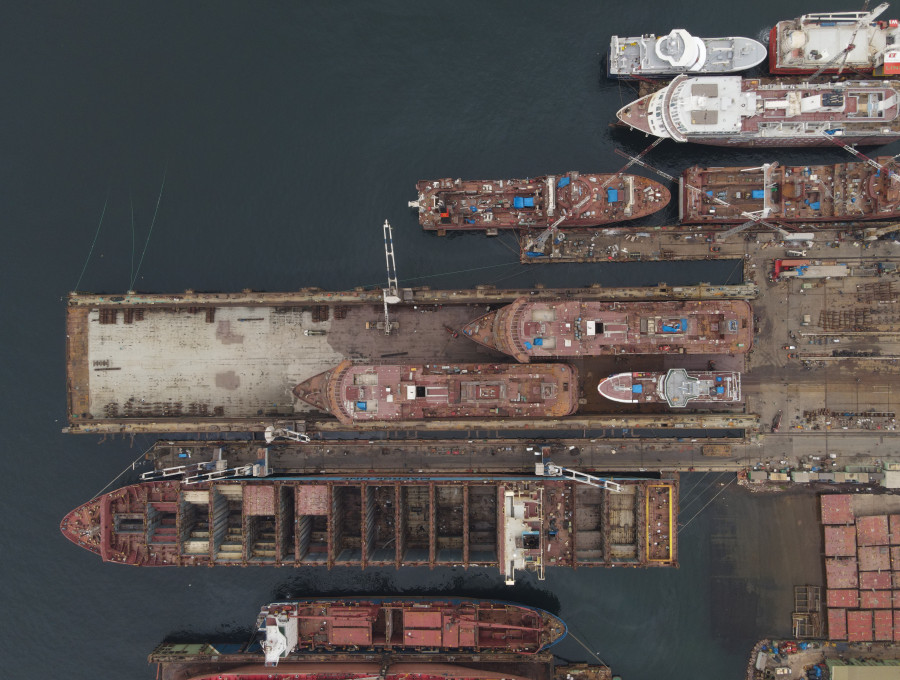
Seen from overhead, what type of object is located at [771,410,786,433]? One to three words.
vehicle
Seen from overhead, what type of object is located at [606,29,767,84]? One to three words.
ship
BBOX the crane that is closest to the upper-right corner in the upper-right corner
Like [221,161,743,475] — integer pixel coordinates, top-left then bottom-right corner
[845,1,894,40]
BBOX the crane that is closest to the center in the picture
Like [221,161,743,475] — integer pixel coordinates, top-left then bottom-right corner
[382,219,413,335]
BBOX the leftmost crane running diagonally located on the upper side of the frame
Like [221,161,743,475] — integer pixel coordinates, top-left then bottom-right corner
[519,140,661,258]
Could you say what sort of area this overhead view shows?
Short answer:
port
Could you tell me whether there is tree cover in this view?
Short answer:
No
